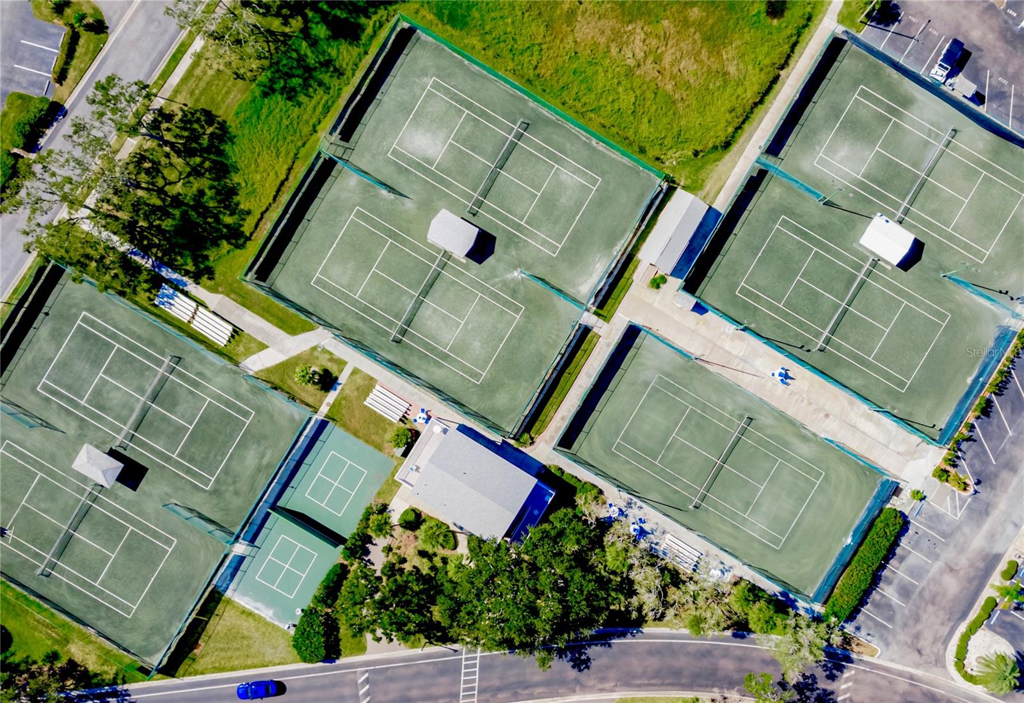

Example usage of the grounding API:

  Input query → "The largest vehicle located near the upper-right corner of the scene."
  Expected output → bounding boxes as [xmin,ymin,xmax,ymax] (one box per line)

[930,39,964,81]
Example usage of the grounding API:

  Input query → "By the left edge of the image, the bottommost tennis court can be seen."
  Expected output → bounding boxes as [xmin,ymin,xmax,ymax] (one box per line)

[0,405,237,669]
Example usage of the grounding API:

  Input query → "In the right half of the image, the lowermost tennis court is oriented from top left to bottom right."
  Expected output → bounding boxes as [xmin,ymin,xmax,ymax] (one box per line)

[553,322,880,592]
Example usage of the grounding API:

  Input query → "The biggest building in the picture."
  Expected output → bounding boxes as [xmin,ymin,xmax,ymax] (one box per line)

[394,417,557,544]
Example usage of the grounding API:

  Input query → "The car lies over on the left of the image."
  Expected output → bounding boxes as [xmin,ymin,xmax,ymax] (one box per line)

[237,681,278,703]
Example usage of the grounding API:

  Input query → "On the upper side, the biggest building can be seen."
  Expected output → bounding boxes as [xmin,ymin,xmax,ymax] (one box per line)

[638,188,709,275]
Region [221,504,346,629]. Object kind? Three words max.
sports court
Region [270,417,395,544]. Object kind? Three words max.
sports court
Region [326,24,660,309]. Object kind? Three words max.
tennis court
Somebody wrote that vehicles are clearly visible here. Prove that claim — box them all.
[949,77,979,97]
[930,39,964,81]
[237,681,278,703]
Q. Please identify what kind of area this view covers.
sports ground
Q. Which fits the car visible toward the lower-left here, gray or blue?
blue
